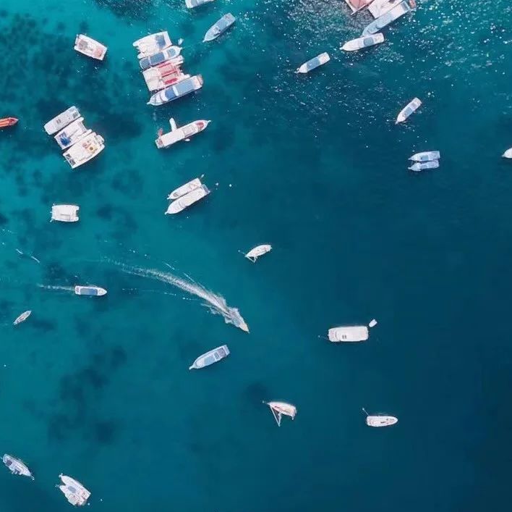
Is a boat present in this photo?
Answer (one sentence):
Yes, this view includes a boat.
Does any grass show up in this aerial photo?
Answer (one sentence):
No, there's no grass in this view.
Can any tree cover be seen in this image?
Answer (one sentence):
No, there's no tree cover in this view.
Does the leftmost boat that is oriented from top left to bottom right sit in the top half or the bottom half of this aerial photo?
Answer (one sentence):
You can find the leftmost boat that is oriented from top left to bottom right in the bottom half.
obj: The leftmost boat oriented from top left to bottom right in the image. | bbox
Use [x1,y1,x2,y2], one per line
[0,455,33,479]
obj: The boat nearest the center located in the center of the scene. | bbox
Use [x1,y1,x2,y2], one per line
[246,244,273,261]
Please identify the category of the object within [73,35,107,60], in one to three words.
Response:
boat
